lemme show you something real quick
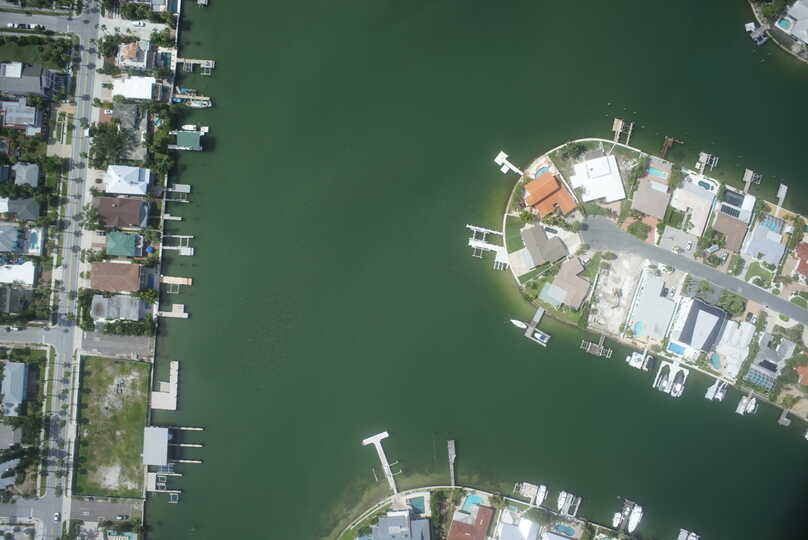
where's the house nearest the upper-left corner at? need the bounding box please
[0,62,55,96]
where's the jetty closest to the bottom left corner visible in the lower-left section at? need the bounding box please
[146,472,182,494]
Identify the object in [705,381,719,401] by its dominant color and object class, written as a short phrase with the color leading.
white boat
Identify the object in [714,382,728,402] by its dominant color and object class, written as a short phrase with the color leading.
white boat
